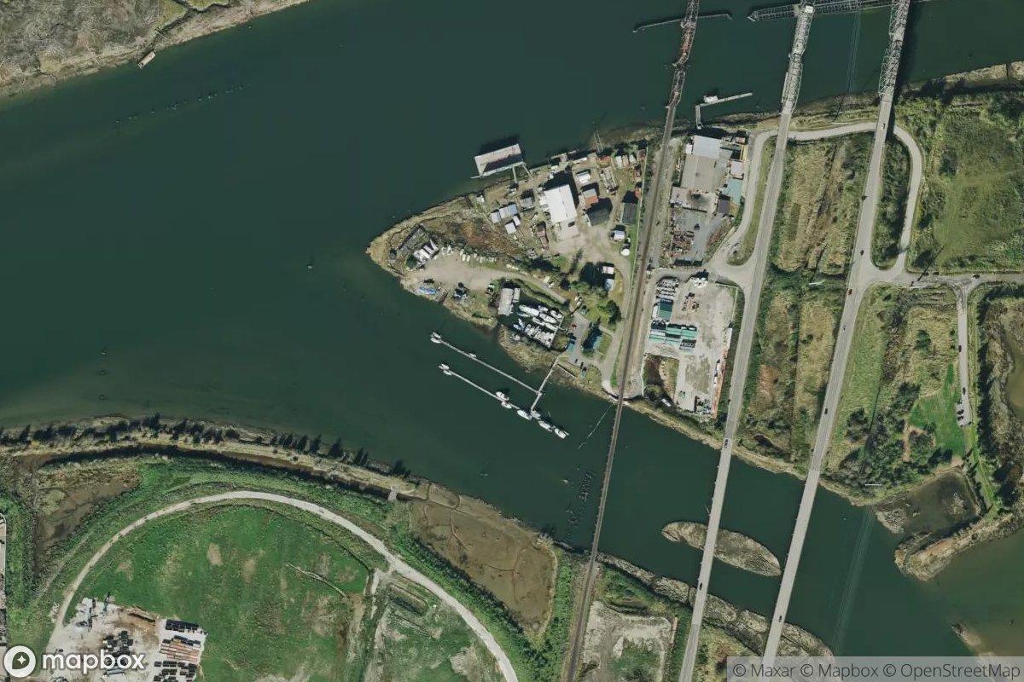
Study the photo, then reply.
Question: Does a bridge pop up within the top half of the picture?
Yes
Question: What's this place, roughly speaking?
port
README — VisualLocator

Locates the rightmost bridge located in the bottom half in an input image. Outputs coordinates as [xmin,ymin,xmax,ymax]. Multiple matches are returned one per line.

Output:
[758,470,821,682]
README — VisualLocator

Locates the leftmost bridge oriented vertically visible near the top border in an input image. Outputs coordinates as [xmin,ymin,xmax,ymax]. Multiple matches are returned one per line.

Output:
[664,0,694,125]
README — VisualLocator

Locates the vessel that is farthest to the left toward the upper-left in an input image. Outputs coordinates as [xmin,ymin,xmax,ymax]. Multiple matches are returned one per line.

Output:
[138,50,156,67]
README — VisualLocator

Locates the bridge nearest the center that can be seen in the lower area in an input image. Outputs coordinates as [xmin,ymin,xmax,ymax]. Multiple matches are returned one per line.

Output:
[587,398,624,559]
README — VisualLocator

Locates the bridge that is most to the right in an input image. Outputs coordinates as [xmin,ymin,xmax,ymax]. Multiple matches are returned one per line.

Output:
[874,0,915,139]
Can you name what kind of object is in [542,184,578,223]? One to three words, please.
shed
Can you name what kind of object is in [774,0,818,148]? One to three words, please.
bridge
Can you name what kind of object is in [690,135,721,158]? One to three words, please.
building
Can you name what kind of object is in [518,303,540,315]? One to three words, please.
boat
